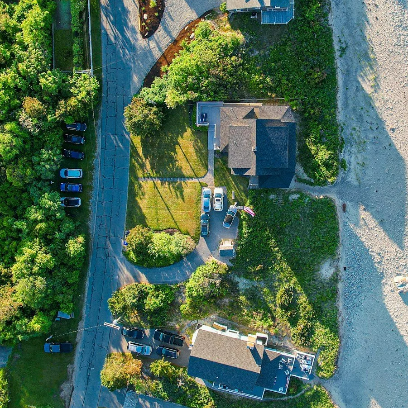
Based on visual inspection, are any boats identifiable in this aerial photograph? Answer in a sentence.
No, the frame has no boat in it.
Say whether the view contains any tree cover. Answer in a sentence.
Yes, the picture does contain tree cover.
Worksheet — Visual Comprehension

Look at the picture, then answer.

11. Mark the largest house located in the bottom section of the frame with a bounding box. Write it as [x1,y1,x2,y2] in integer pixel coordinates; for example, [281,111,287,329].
[188,324,315,402]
